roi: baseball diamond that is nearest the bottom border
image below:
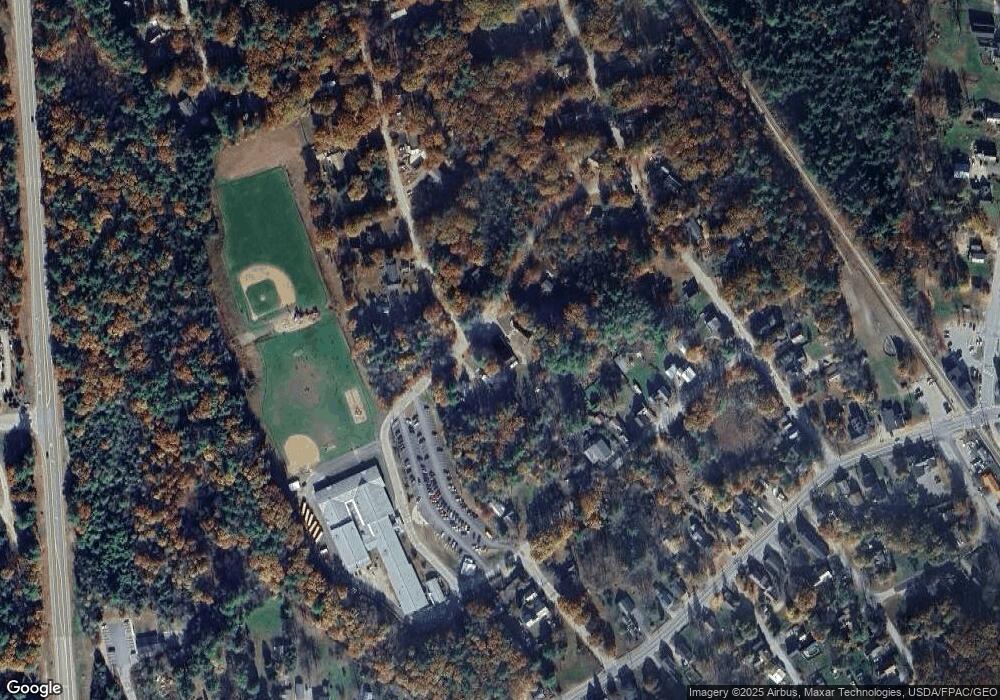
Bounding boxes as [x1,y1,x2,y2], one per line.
[258,316,379,472]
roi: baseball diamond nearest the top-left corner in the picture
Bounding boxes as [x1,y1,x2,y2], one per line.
[217,167,329,334]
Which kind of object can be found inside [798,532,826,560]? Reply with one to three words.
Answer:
house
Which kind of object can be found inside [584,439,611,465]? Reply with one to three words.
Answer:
house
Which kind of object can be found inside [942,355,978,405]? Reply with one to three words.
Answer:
building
